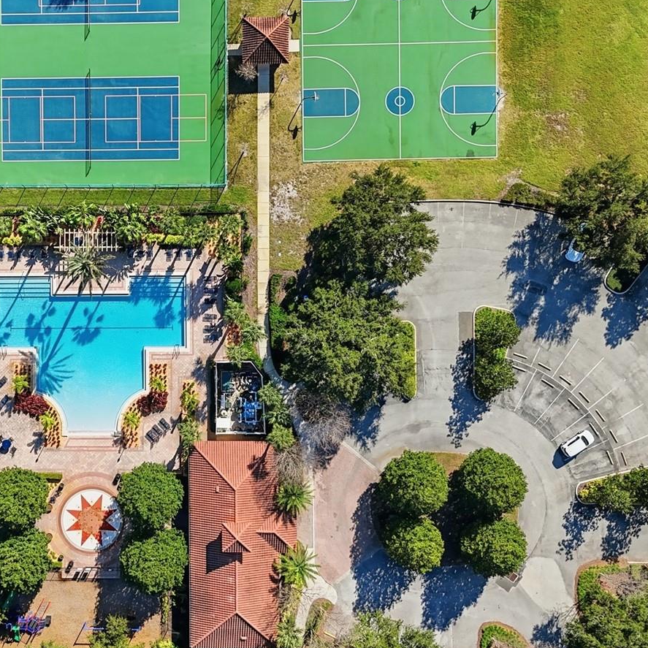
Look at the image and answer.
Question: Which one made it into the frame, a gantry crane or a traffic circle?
traffic circle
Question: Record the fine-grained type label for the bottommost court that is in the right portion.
basketball court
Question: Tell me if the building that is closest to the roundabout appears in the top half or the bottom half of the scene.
bottom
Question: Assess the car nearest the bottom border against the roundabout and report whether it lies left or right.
to its right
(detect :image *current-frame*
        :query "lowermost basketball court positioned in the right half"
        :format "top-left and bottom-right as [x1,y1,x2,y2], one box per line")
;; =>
[302,40,497,162]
